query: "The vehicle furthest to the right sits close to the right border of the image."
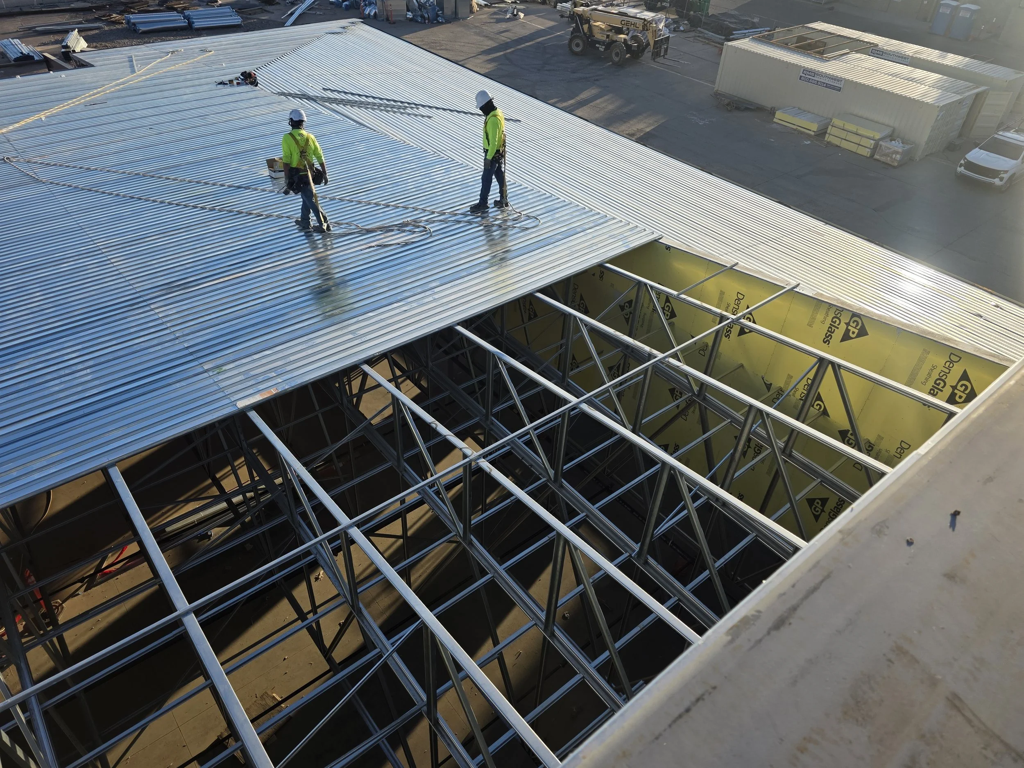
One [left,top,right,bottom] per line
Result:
[956,114,1024,192]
